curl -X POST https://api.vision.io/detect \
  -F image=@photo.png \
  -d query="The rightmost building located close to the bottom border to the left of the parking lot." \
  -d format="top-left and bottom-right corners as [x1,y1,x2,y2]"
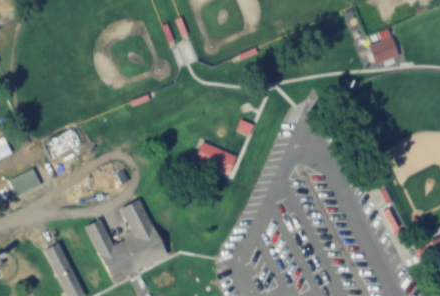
[84,198,168,284]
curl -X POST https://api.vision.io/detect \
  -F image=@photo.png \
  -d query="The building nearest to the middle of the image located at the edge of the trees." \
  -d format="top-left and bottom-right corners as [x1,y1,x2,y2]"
[200,142,238,176]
